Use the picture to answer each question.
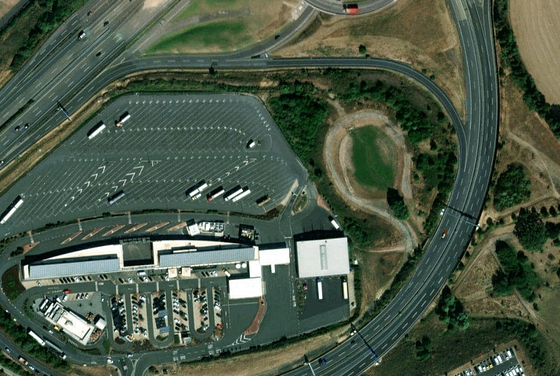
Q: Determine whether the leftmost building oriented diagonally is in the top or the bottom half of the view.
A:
bottom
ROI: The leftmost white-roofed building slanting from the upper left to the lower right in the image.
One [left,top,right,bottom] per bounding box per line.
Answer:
[47,303,94,343]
